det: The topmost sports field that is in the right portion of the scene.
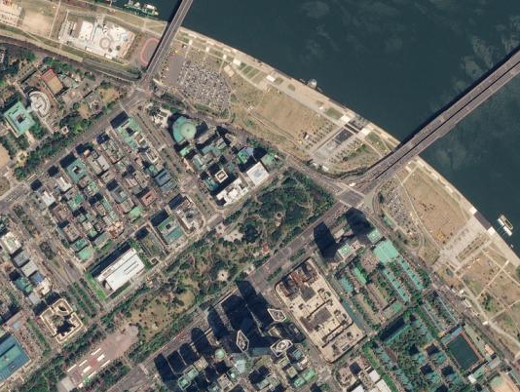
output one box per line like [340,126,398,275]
[448,331,483,370]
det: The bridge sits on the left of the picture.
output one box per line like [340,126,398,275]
[139,0,192,88]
